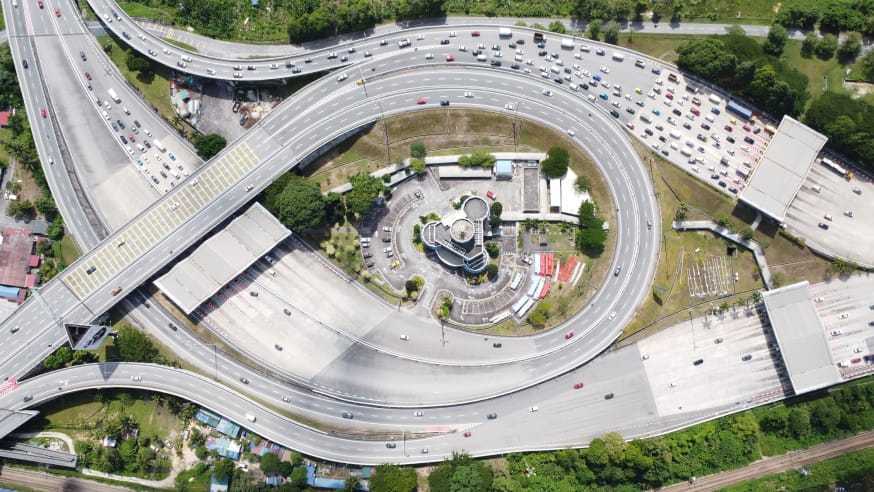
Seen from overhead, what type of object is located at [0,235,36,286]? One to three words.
building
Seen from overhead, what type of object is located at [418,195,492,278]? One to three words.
building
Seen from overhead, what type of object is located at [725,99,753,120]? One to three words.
vehicle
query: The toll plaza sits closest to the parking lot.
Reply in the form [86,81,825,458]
[152,201,271,310]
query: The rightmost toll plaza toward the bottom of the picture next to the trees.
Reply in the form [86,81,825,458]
[762,281,850,395]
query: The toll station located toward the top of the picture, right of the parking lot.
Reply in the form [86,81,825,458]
[727,114,830,225]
